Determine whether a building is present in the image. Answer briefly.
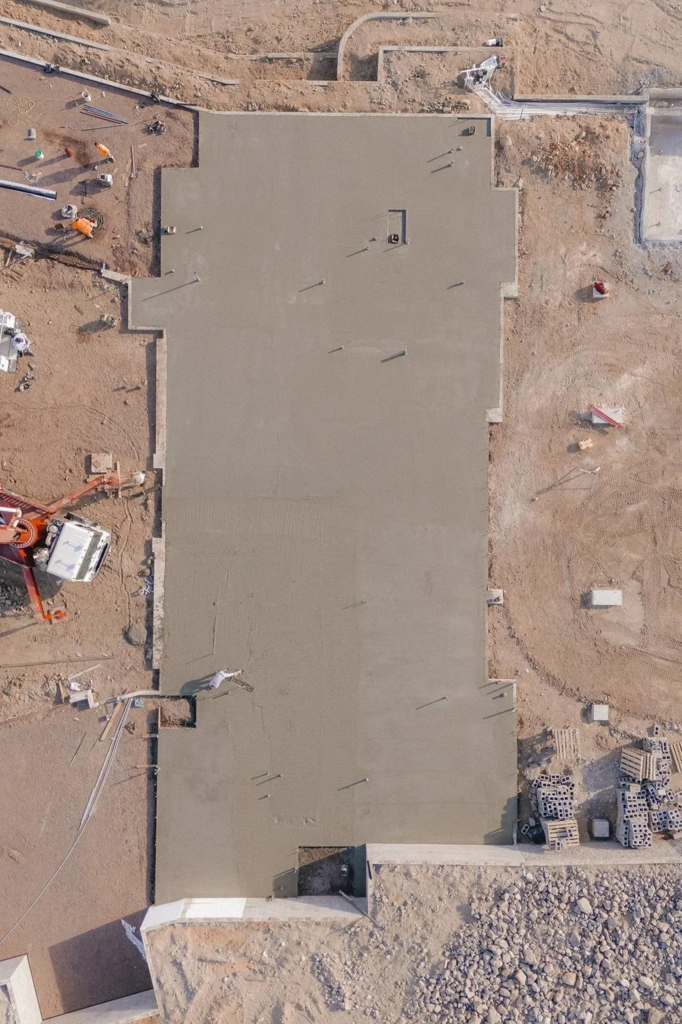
No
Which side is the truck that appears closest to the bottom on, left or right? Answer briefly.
left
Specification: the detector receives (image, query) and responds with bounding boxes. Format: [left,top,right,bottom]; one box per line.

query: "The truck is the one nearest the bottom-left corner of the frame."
[0,473,119,620]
